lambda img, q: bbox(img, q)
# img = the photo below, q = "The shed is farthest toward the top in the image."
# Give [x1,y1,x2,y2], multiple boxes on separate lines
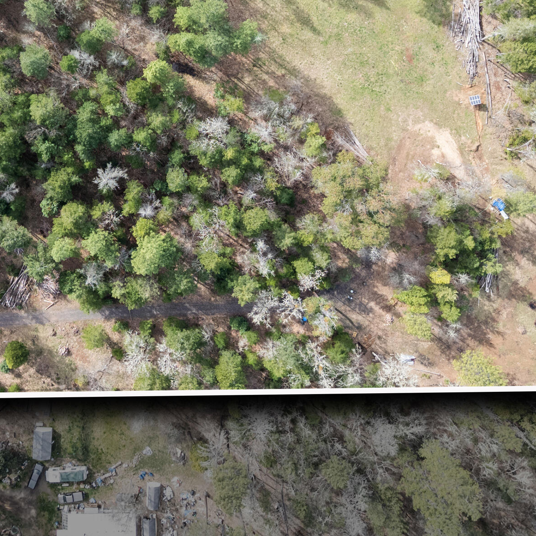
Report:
[32,424,53,462]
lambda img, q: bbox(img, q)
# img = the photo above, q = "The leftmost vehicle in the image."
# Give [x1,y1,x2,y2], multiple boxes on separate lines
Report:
[27,464,43,492]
